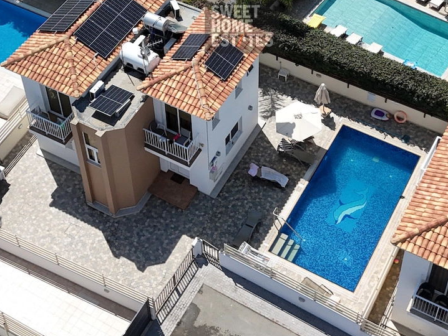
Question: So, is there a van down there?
No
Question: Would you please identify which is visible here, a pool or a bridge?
pool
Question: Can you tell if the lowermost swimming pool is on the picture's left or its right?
right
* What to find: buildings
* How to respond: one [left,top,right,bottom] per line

[0,0,275,220]
[382,124,448,336]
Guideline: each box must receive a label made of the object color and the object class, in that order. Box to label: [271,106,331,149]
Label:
white umbrella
